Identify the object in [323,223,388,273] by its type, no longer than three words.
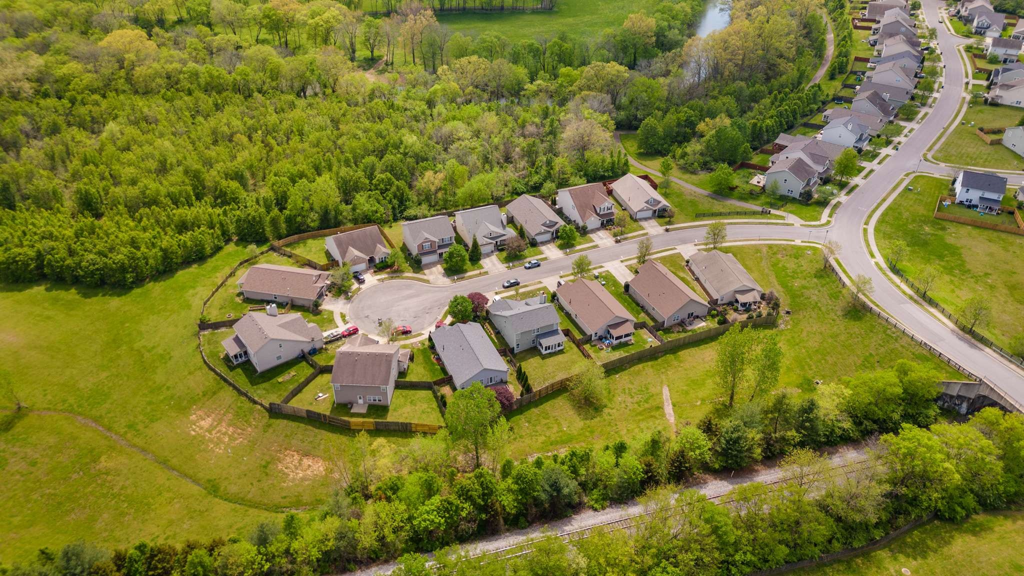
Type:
house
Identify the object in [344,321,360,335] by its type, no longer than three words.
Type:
car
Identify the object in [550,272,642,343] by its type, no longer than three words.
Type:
house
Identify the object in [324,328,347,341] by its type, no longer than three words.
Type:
vehicle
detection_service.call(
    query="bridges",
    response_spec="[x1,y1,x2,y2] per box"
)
[935,362,1024,416]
